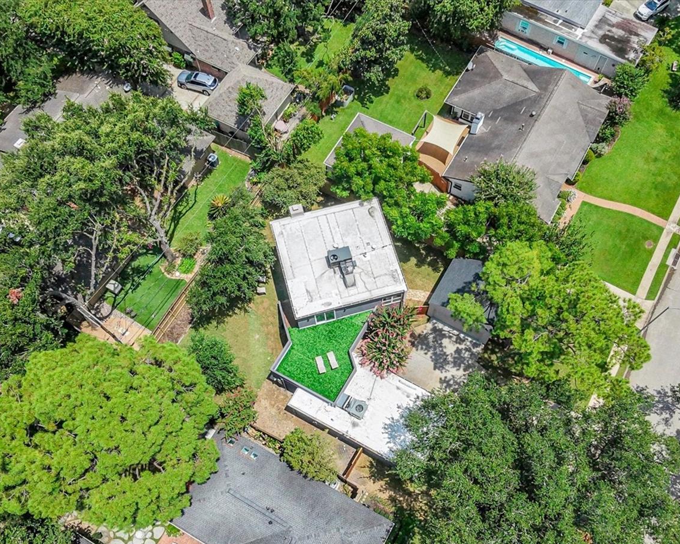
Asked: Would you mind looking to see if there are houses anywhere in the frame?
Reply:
Yes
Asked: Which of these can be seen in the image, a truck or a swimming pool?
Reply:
swimming pool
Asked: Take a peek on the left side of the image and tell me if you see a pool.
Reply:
No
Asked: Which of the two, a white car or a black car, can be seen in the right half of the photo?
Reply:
white car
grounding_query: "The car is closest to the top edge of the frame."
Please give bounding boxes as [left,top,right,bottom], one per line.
[635,0,670,20]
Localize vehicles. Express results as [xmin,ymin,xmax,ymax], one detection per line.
[174,72,216,97]
[635,0,670,20]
